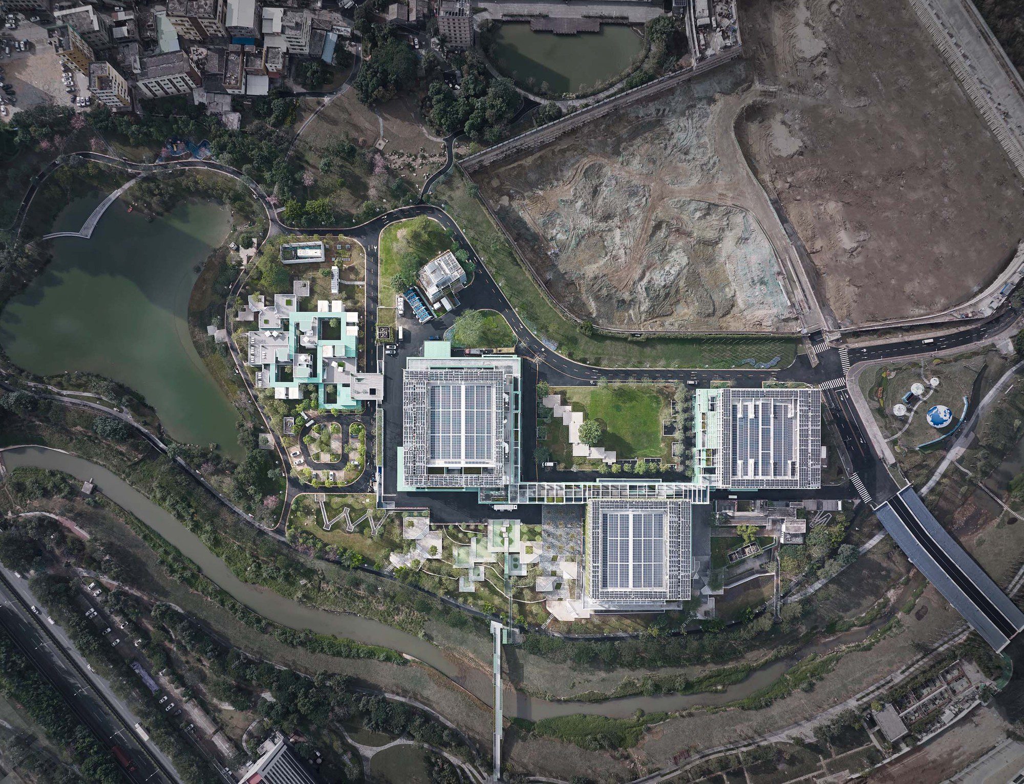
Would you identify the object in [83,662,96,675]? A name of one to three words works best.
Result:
vehicle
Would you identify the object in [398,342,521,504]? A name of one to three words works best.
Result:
building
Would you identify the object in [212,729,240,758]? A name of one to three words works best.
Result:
shed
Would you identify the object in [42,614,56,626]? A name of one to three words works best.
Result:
vehicle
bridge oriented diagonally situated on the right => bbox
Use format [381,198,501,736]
[872,484,1024,656]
